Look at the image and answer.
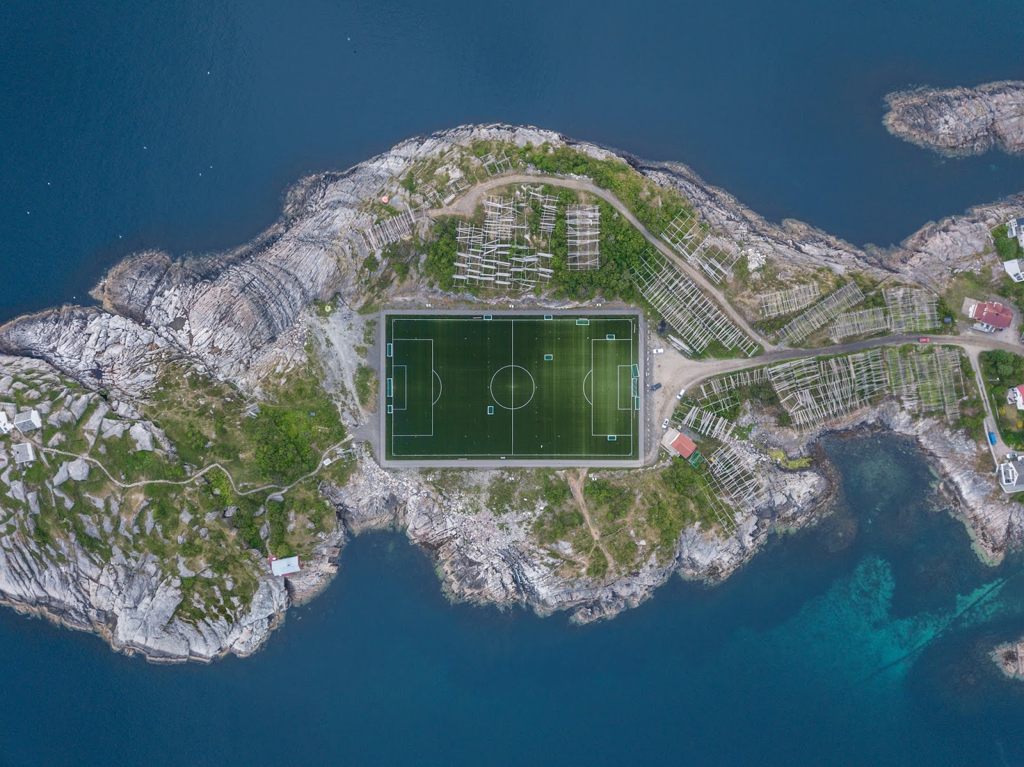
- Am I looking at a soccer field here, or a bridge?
soccer field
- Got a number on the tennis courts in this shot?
0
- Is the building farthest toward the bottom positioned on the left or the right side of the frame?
left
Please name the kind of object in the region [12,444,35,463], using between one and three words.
shed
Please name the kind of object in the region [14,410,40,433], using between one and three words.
house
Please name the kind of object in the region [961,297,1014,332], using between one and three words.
house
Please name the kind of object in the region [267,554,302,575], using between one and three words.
building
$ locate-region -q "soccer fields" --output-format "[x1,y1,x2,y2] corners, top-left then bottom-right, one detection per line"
[380,310,644,467]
